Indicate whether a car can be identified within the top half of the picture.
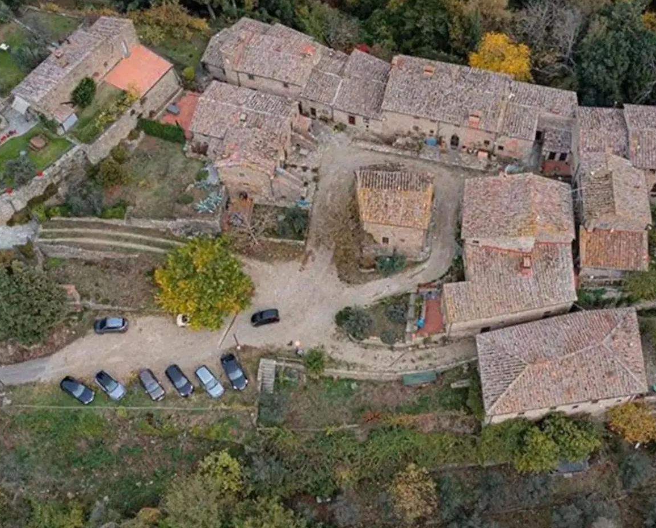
No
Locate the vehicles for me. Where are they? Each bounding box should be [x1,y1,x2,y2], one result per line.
[59,375,95,404]
[95,370,125,400]
[137,368,165,400]
[222,353,248,390]
[165,365,193,397]
[251,309,280,327]
[93,317,129,334]
[194,366,224,398]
